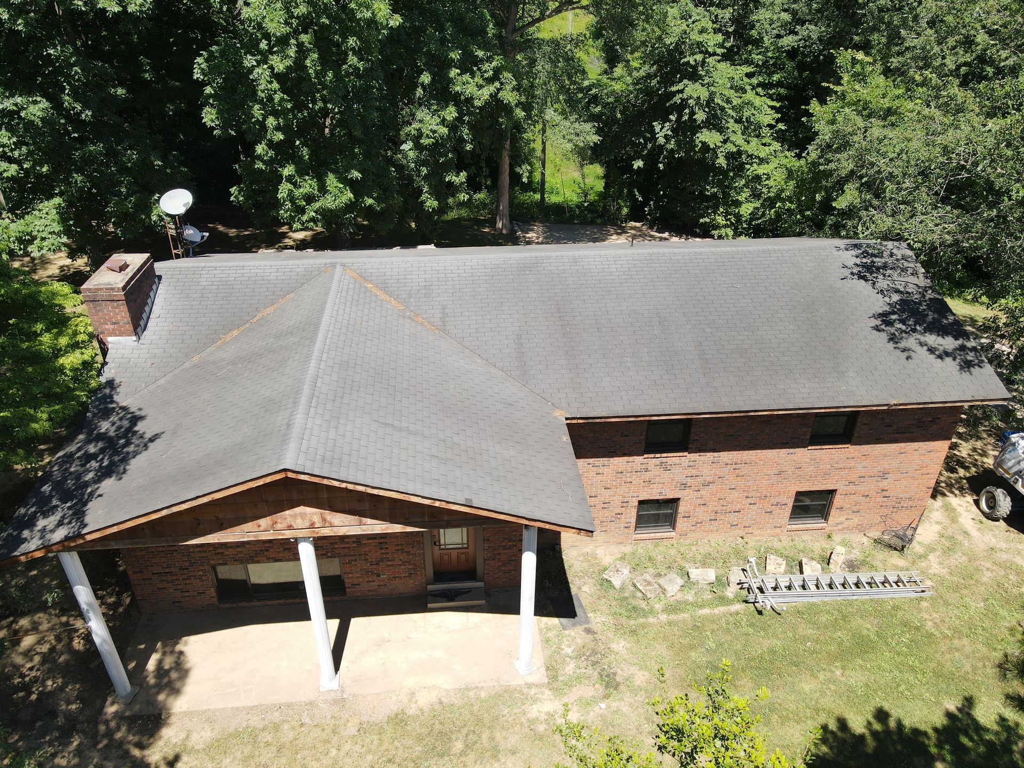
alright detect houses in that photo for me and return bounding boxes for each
[0,232,1010,707]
